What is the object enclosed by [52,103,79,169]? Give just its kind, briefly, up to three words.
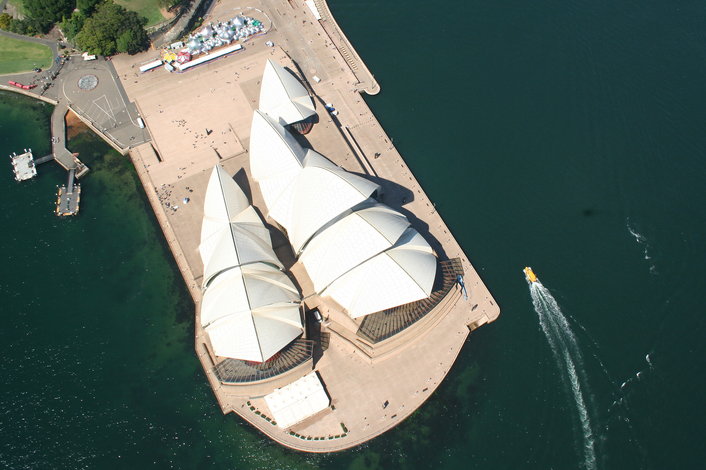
pier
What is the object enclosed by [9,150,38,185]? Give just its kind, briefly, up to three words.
pier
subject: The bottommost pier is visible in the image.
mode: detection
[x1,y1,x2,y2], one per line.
[53,183,81,215]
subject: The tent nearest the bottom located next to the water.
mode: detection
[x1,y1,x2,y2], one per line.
[265,371,336,435]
